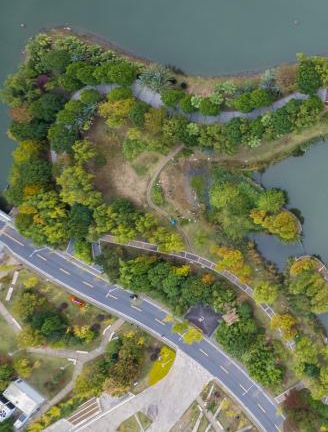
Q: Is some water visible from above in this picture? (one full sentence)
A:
Yes, water can be seen from above here.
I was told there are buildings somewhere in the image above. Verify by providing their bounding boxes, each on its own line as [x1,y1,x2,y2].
[3,378,48,432]
[185,303,223,338]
